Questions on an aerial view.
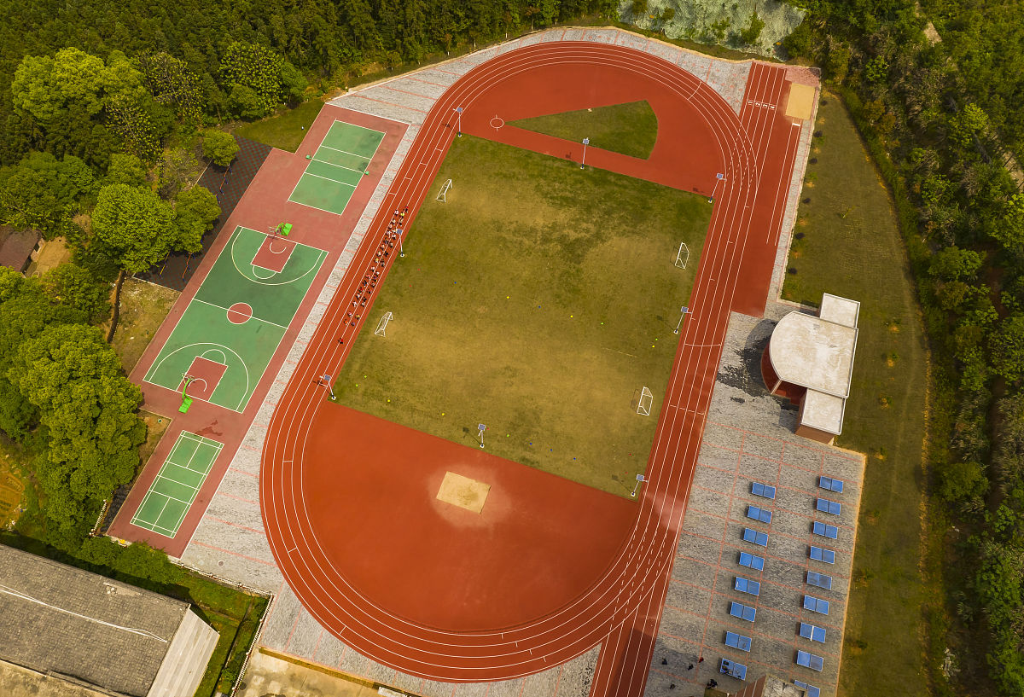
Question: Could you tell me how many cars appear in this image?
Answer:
0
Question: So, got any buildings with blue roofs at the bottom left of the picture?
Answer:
No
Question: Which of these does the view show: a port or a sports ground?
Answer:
sports ground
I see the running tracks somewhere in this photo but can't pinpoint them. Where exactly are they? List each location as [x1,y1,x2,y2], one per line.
[259,40,805,697]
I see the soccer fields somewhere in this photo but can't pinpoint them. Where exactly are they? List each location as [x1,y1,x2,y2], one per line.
[333,136,714,500]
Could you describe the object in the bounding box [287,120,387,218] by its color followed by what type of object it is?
green sports court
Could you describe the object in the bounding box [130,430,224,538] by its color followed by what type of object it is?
green sports court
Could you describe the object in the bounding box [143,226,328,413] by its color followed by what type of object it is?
green basketball court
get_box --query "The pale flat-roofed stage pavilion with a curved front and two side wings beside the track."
[760,292,861,445]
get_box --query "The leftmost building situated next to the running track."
[0,536,221,697]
